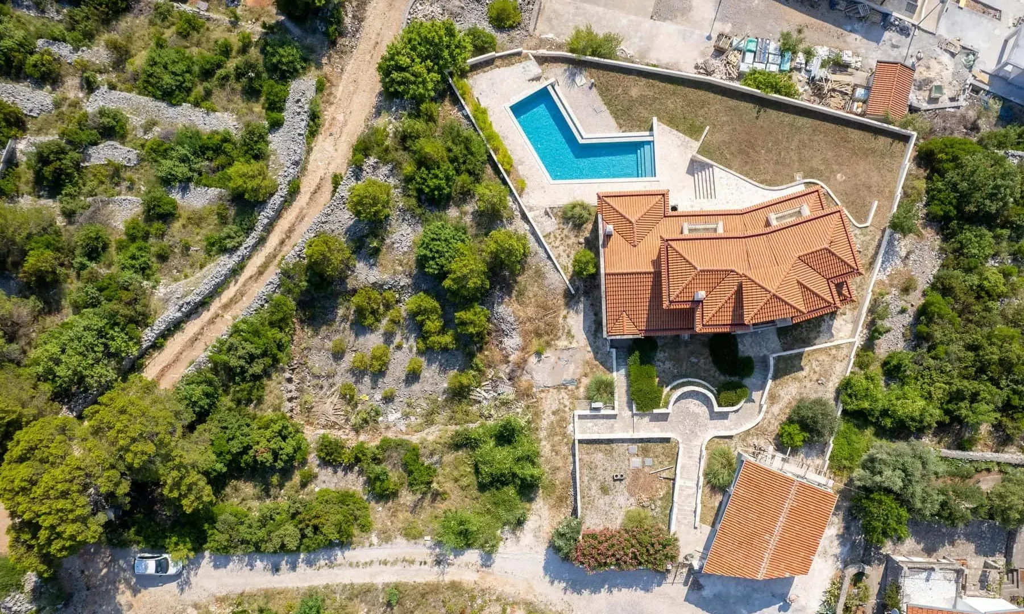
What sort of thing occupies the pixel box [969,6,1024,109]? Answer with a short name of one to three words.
house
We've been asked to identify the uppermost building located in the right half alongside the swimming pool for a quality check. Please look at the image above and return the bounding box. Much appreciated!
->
[595,182,865,339]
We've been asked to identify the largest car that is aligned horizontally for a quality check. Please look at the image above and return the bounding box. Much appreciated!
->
[134,554,183,579]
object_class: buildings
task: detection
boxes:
[595,182,865,339]
[862,59,916,123]
[969,6,1024,109]
[879,548,1024,614]
[868,0,942,37]
[701,448,839,581]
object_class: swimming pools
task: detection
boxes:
[503,78,659,184]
